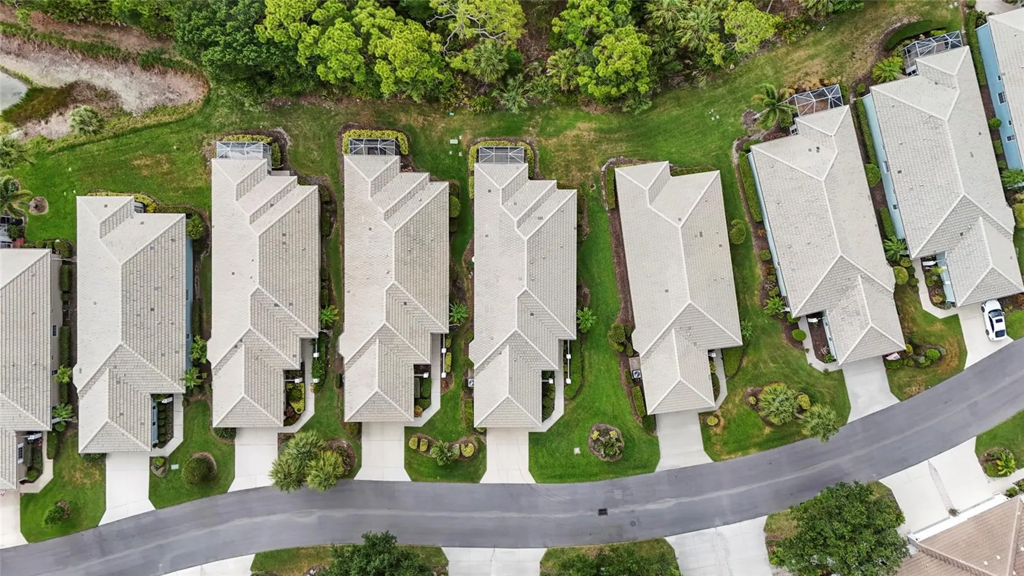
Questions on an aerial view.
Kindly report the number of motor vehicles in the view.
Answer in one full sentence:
In total, 1 motor vehicle can be seen.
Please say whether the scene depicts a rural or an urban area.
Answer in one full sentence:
The area is urban.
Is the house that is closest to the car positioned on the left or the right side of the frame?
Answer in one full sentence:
The house that is closest to the car is on the right side of the image.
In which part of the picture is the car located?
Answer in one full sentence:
Look in the right portion of the view to spot the car.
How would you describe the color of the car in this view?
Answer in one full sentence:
From above, the car appears white.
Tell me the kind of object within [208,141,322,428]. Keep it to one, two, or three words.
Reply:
house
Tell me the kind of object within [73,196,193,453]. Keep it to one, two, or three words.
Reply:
house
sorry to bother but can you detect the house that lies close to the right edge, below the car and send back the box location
[885,494,1024,576]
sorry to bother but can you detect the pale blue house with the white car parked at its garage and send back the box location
[863,31,1024,306]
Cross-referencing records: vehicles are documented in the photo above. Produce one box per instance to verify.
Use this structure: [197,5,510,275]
[979,298,1007,341]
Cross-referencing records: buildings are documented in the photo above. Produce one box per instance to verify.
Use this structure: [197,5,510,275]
[0,215,63,490]
[615,160,743,415]
[863,31,1024,306]
[73,196,193,453]
[976,8,1024,206]
[340,139,449,423]
[208,141,322,428]
[469,147,578,428]
[885,494,1024,576]
[747,84,905,366]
